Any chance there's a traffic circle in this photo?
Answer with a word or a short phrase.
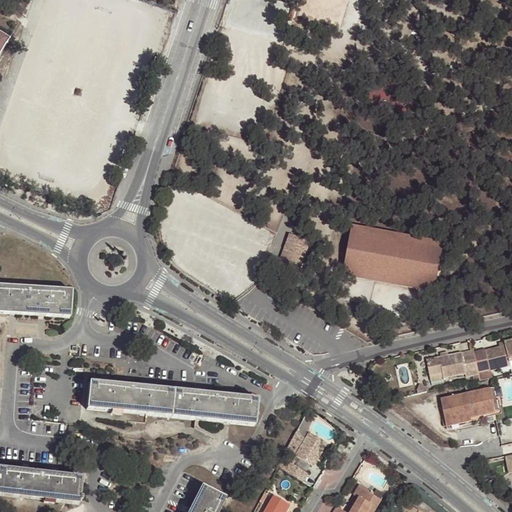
Yes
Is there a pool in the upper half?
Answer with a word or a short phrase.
No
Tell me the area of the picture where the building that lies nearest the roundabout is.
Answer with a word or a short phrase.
left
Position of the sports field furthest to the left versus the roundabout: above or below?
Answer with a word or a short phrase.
above it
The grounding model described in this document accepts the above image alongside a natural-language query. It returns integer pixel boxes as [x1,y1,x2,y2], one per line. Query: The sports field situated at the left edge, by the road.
[0,0,174,204]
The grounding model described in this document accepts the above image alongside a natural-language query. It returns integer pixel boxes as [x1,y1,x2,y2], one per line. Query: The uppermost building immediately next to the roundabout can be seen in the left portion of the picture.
[0,282,74,319]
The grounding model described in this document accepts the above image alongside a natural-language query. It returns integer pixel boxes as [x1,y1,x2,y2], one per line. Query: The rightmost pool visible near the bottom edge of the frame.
[354,461,390,491]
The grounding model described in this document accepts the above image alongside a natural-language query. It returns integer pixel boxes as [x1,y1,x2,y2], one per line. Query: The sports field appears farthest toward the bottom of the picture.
[159,190,276,297]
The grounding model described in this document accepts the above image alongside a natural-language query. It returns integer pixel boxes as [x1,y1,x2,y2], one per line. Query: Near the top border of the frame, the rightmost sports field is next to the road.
[192,0,285,132]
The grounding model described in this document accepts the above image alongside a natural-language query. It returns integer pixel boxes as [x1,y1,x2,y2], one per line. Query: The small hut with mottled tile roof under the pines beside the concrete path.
[282,233,309,265]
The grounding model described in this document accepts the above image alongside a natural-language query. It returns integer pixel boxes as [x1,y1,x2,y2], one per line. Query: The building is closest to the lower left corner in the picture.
[0,464,85,506]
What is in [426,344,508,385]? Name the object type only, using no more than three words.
house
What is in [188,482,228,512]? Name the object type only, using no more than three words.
building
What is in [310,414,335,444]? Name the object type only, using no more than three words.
swimming pool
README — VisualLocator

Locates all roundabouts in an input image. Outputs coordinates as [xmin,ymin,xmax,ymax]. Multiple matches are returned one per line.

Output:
[88,236,138,286]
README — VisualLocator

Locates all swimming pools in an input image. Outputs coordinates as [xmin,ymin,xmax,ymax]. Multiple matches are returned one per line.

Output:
[398,363,413,388]
[310,414,335,444]
[354,461,390,491]
[280,479,290,490]
[498,378,512,407]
